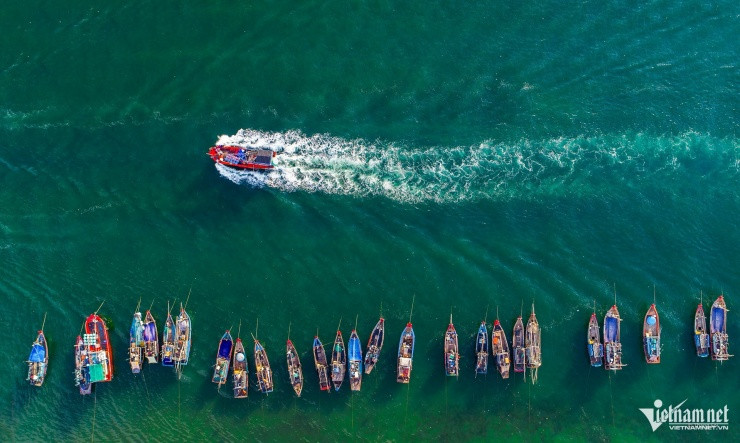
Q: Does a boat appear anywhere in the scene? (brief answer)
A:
Yes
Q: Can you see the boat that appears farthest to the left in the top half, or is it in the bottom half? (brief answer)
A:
bottom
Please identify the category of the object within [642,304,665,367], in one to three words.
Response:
boat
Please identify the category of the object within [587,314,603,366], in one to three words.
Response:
boat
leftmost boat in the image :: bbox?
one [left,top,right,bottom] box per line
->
[27,314,49,385]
